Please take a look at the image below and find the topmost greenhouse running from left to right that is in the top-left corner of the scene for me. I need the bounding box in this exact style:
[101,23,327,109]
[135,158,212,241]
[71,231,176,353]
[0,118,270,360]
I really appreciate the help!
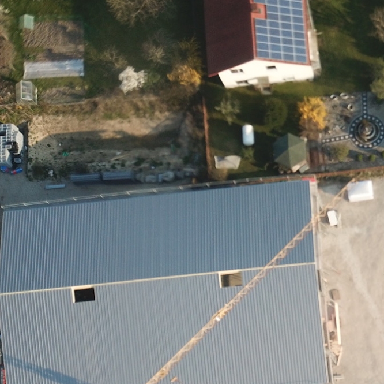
[21,59,84,78]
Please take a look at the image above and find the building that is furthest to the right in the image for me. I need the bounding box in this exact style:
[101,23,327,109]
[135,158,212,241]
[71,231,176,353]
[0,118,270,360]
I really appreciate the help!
[349,182,374,205]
